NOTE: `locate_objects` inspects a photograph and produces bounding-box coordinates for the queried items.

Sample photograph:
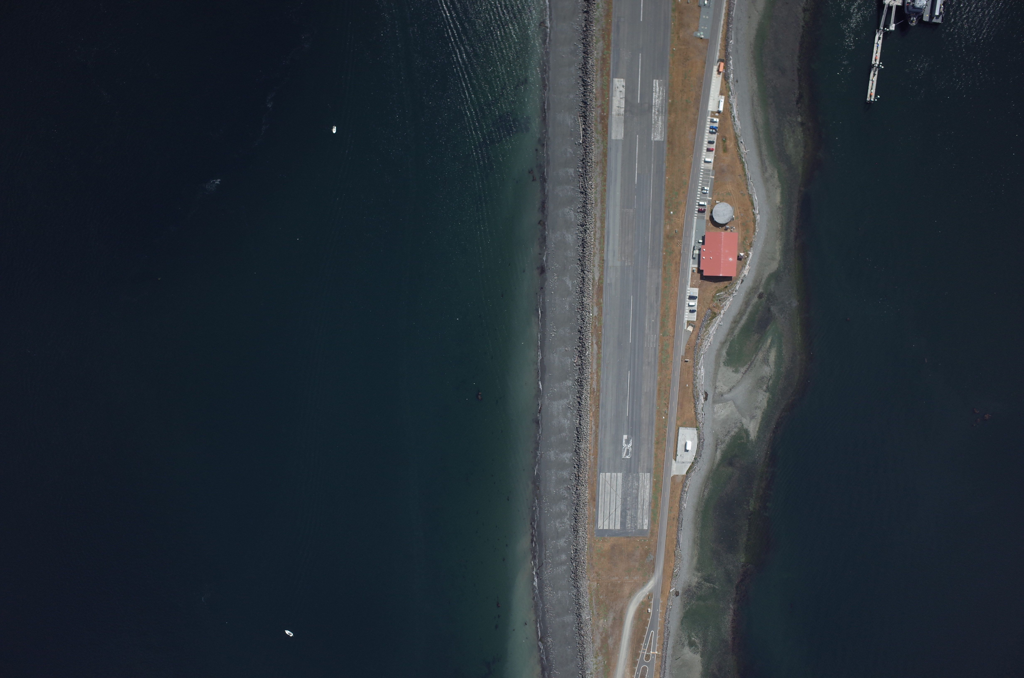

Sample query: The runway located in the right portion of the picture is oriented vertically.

[595,0,672,537]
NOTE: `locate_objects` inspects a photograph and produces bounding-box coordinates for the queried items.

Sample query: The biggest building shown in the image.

[699,232,738,276]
